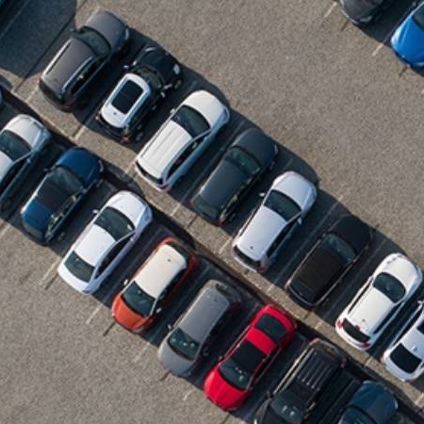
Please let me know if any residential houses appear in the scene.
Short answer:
No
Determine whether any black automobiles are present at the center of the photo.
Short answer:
Yes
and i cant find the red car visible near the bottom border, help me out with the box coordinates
[206,306,296,410]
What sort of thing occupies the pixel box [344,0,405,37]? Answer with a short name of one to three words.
car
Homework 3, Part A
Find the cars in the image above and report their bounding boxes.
[331,382,397,424]
[114,237,199,331]
[159,278,244,373]
[134,90,228,193]
[206,306,296,410]
[35,8,132,114]
[333,253,422,352]
[57,191,152,296]
[344,0,405,37]
[190,128,279,227]
[284,212,373,312]
[0,115,52,208]
[97,48,179,140]
[395,8,424,79]
[228,174,317,273]
[15,147,106,245]
[253,337,349,424]
[383,298,424,379]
